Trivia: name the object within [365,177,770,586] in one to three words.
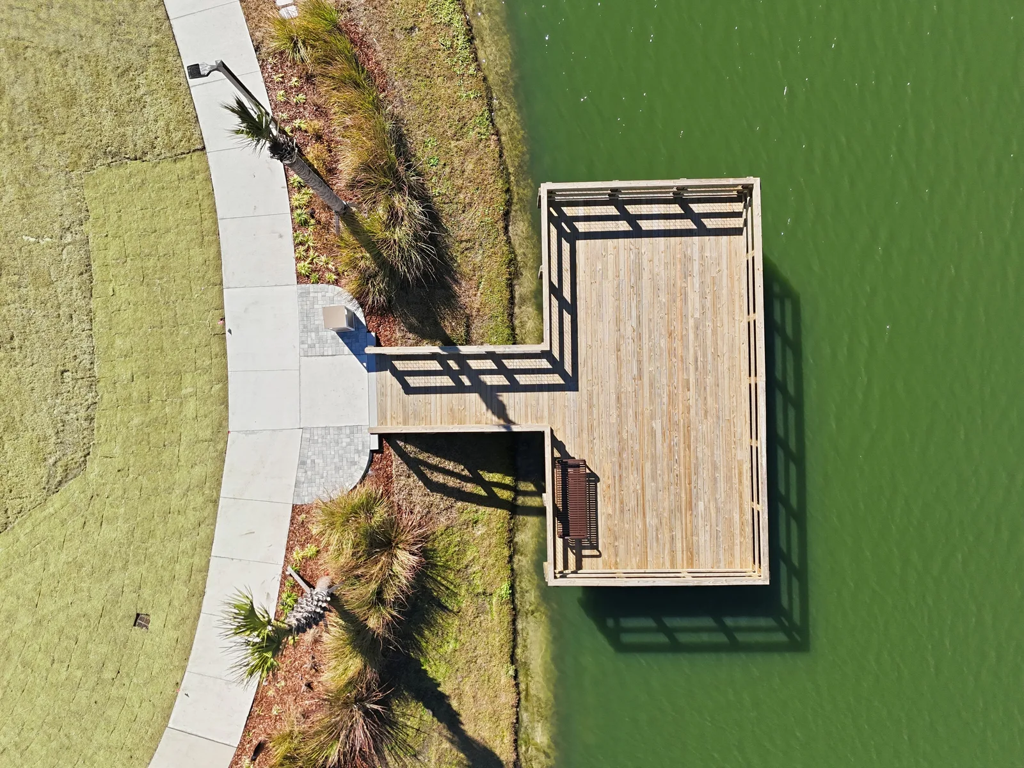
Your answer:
pier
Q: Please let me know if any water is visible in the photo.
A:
Yes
